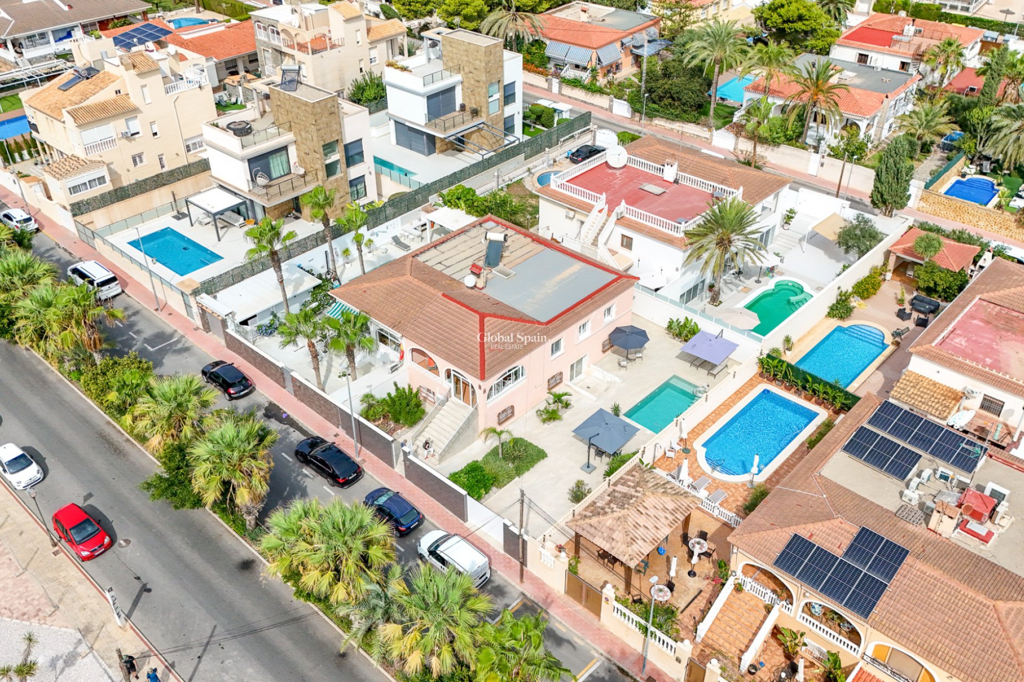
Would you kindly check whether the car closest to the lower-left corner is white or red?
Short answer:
red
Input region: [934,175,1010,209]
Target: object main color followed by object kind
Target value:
blue swimming pool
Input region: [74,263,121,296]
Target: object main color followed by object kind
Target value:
white car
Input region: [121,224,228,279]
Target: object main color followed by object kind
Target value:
blue swimming pool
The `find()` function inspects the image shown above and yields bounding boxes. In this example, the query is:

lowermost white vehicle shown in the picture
[413,527,493,593]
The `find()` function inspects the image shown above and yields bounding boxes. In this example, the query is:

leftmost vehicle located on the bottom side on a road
[0,438,42,487]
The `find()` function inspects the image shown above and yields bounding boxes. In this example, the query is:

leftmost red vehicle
[46,498,107,557]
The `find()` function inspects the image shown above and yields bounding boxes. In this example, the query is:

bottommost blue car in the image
[360,485,426,537]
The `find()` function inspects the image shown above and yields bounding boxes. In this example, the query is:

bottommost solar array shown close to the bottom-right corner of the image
[775,523,914,619]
